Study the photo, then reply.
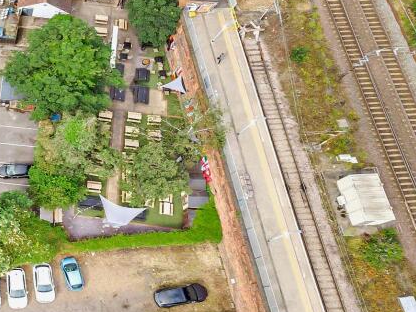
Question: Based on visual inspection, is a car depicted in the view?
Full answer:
Yes, there's a car down there.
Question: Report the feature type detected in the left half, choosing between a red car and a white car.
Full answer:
The one visible in the left half is a white car.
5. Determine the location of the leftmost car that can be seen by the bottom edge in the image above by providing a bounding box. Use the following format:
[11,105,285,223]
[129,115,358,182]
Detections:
[6,268,29,309]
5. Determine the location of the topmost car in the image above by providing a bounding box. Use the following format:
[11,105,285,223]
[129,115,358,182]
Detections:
[0,161,34,180]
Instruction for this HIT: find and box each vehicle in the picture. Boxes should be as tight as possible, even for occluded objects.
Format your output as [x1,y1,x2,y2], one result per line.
[60,256,83,292]
[152,282,210,311]
[6,268,29,309]
[33,263,55,304]
[0,161,34,180]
